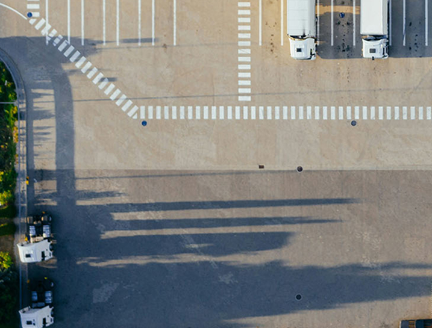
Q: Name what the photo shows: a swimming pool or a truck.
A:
truck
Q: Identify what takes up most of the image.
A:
paved ground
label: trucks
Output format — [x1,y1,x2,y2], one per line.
[362,0,390,60]
[15,213,55,263]
[17,278,57,328]
[286,0,319,60]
